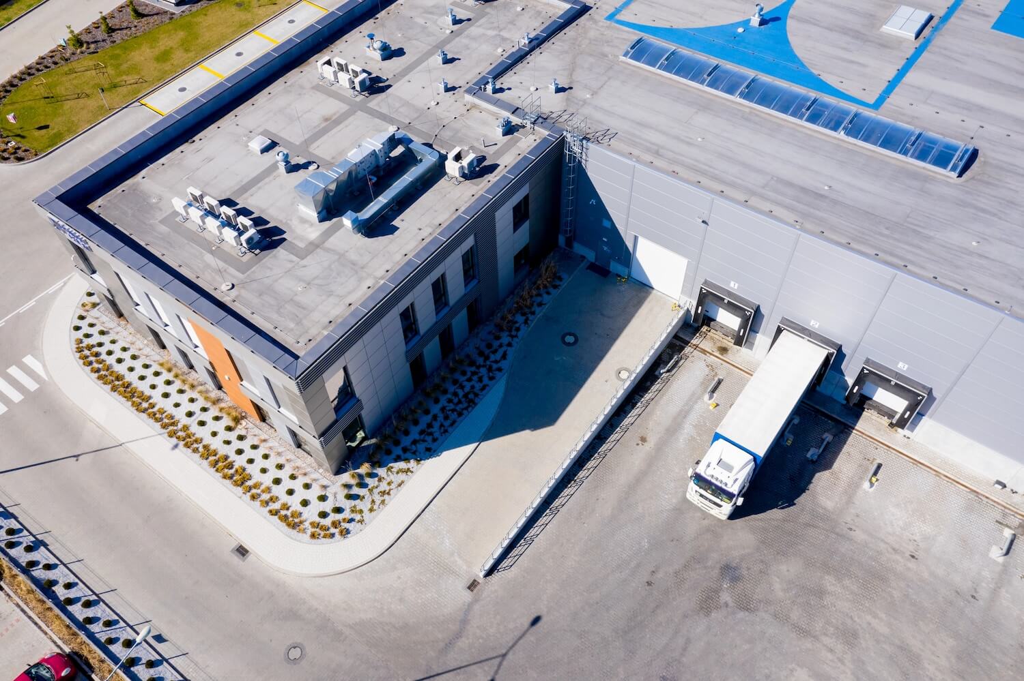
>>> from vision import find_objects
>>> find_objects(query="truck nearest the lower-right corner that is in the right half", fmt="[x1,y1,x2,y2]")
[686,327,830,524]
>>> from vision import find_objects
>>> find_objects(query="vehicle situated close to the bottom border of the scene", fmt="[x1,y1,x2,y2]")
[4,651,76,681]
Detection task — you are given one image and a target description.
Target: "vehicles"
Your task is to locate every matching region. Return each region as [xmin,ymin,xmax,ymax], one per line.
[686,327,830,524]
[4,651,76,681]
